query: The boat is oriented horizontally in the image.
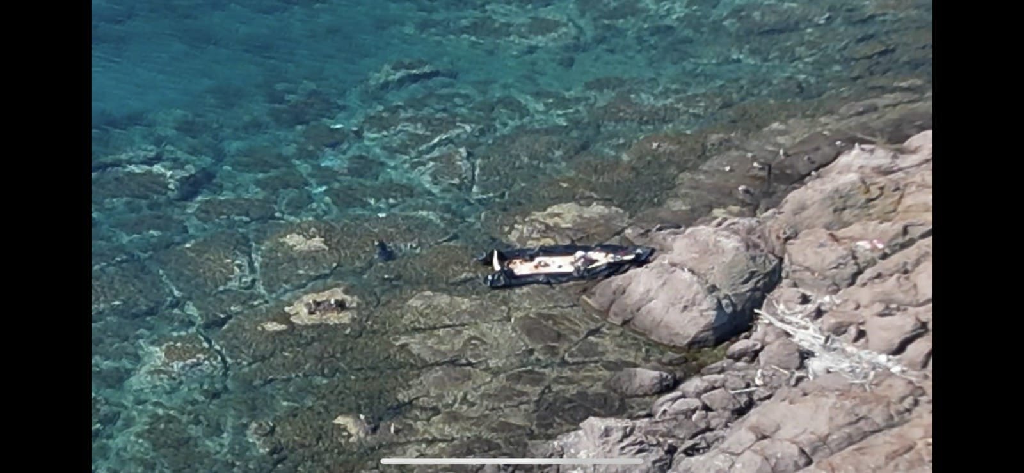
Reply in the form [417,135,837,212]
[473,240,660,295]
